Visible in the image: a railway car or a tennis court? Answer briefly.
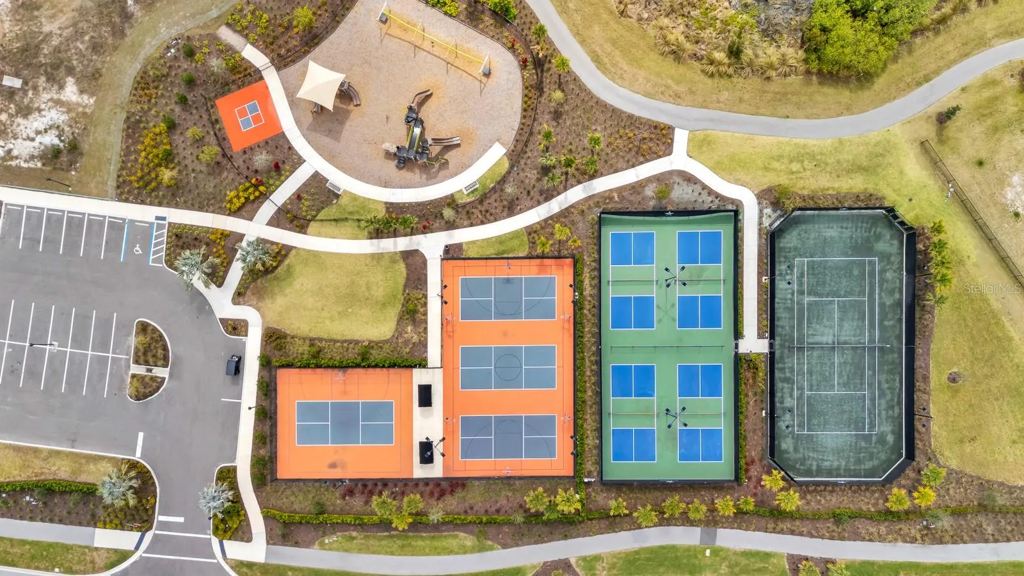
tennis court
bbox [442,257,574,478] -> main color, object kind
orange basketball court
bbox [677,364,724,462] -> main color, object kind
blue sports court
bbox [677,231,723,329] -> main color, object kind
blue sports court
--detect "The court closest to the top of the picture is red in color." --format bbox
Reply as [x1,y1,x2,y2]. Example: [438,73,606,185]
[215,80,282,151]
